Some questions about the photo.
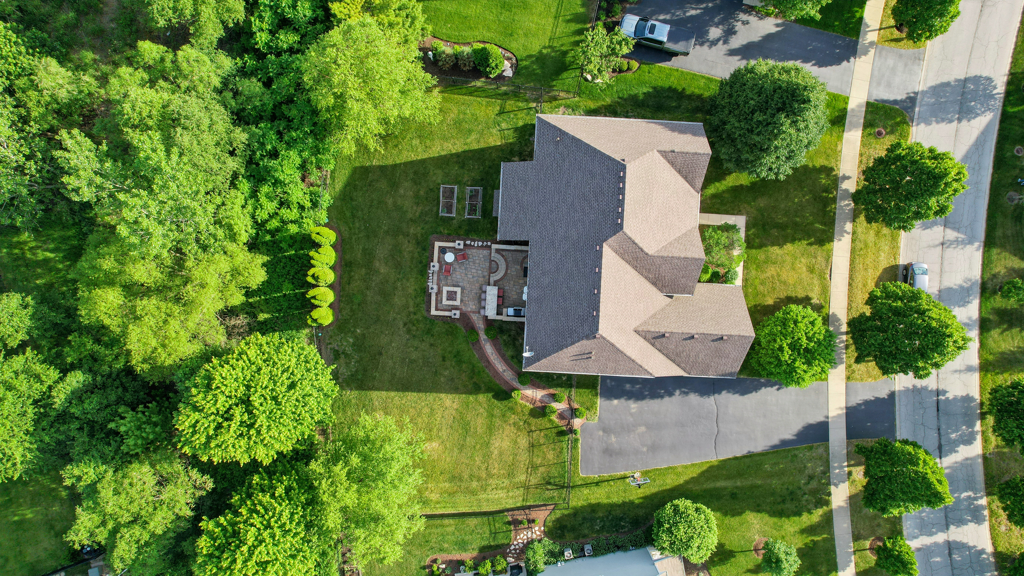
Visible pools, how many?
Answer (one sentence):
I count no pools.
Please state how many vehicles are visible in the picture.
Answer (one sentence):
I count 2 vehicles.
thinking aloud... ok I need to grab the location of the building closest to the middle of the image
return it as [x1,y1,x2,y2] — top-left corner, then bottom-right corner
[493,113,755,380]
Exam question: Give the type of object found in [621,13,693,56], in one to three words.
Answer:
truck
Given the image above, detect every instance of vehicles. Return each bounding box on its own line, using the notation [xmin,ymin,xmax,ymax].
[621,13,693,56]
[903,262,930,303]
